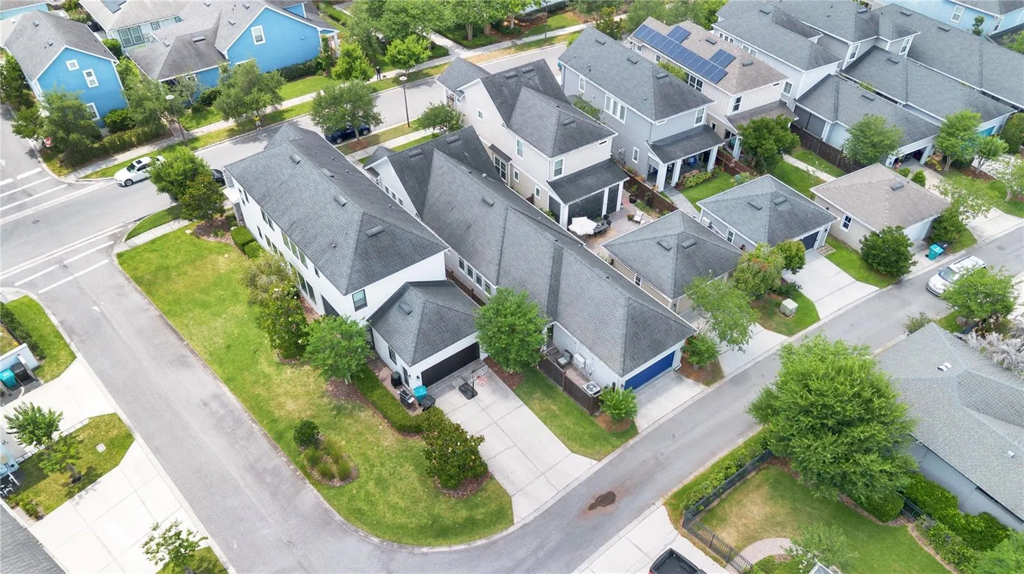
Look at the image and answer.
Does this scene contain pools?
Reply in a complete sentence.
No, the scene contains no pool.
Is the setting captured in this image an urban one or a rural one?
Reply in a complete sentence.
This place is urban.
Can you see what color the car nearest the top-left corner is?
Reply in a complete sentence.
The car nearest the top-left corner looks white in the image.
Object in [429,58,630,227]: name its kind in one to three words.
house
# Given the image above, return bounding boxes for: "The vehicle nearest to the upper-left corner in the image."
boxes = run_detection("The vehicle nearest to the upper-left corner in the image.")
[112,158,161,185]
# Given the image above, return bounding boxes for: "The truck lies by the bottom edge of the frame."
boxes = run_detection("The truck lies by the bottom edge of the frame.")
[640,547,691,574]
